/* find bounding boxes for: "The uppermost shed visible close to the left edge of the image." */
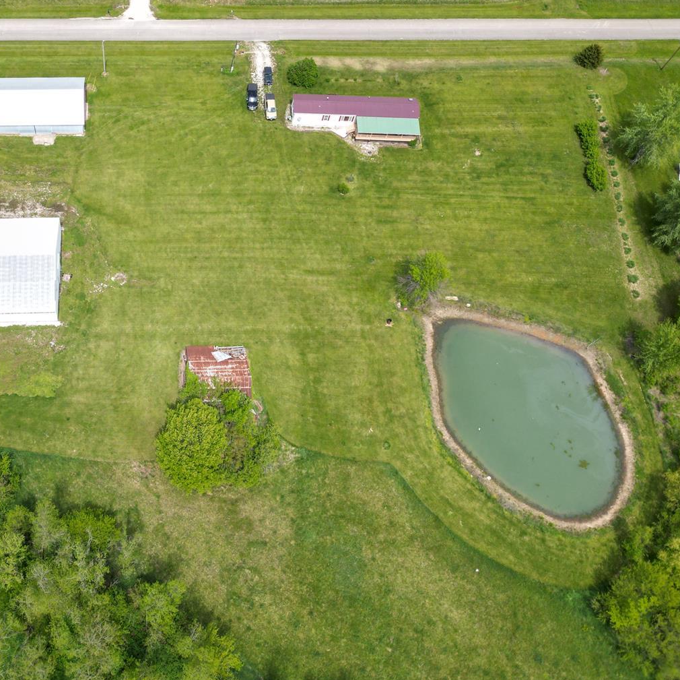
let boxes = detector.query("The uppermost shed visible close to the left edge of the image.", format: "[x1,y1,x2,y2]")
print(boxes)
[0,79,89,137]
